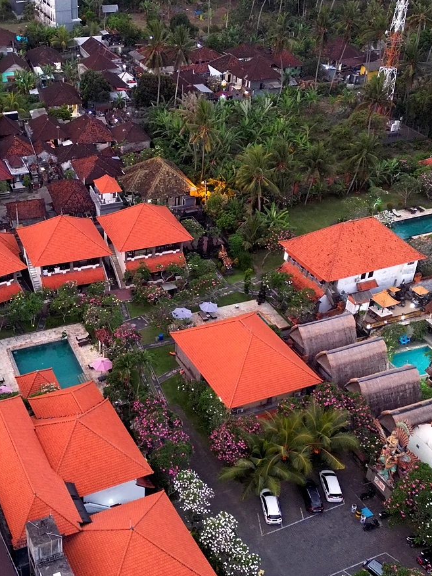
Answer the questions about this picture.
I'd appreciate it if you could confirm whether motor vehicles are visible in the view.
Yes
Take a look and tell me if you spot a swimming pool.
Yes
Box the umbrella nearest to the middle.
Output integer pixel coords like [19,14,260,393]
[197,303,219,319]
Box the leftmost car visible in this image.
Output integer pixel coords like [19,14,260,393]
[257,491,285,527]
